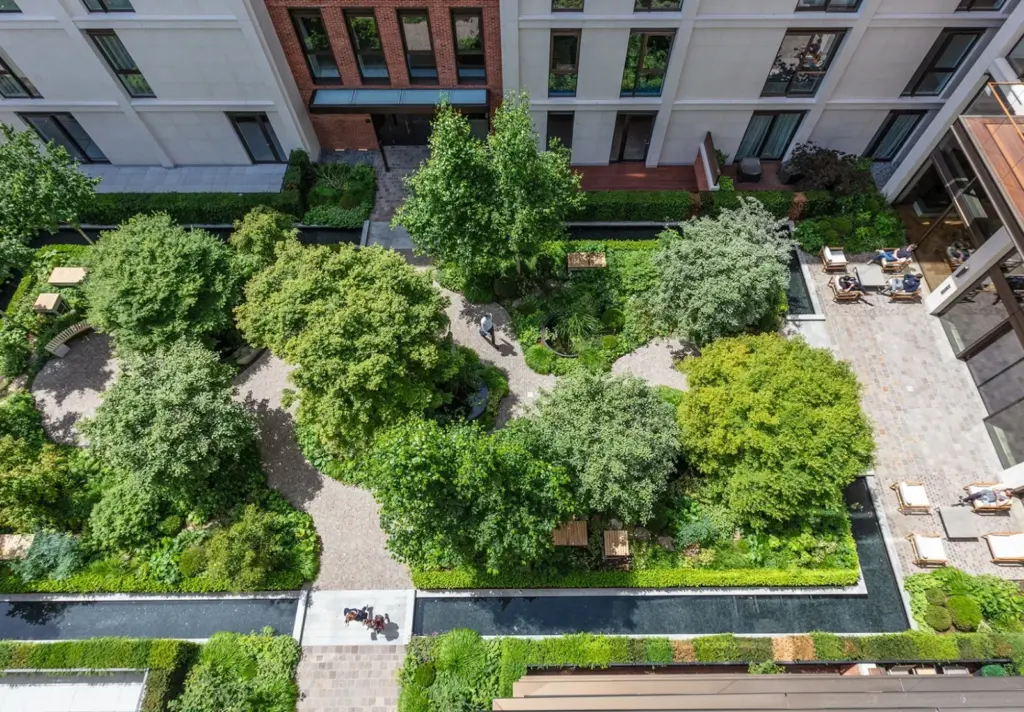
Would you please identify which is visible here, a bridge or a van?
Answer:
bridge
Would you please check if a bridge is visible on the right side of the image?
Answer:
No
